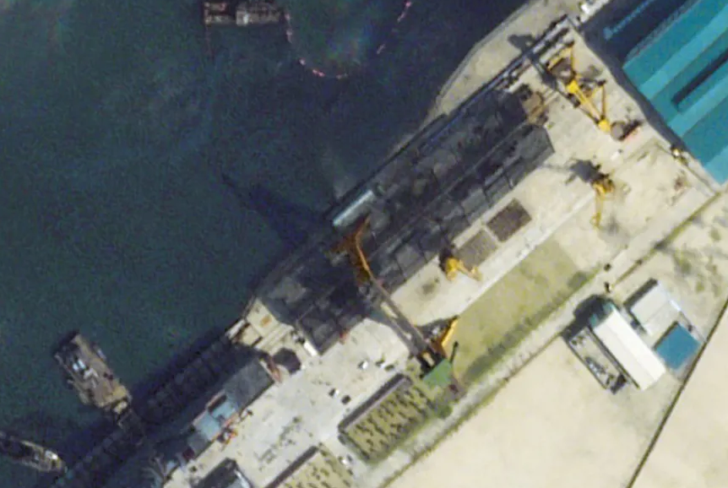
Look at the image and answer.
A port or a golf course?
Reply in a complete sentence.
This looks like a port.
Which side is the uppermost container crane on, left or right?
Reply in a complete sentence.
The uppermost container crane sits on the right side.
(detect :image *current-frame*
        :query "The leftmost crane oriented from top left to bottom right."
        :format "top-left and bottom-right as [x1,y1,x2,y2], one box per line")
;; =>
[302,203,432,358]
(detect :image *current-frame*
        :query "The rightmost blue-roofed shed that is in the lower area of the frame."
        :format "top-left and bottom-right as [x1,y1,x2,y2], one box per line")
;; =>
[656,320,700,369]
